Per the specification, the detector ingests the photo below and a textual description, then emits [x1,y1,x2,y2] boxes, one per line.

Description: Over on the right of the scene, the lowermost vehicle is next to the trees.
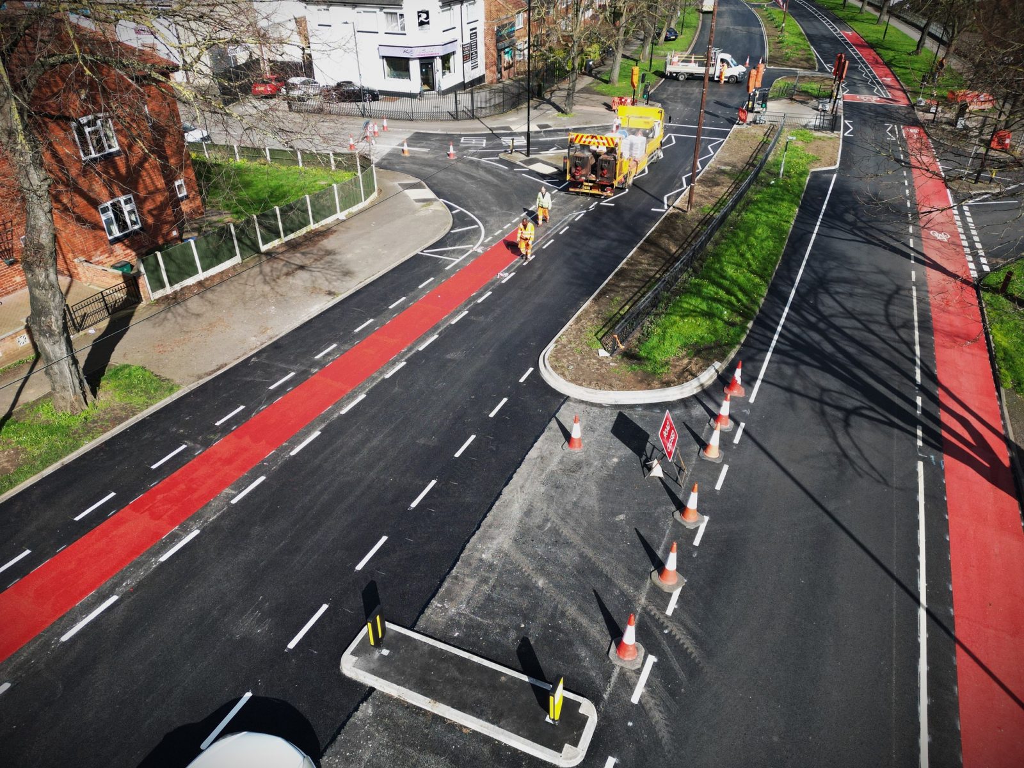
[568,104,673,203]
